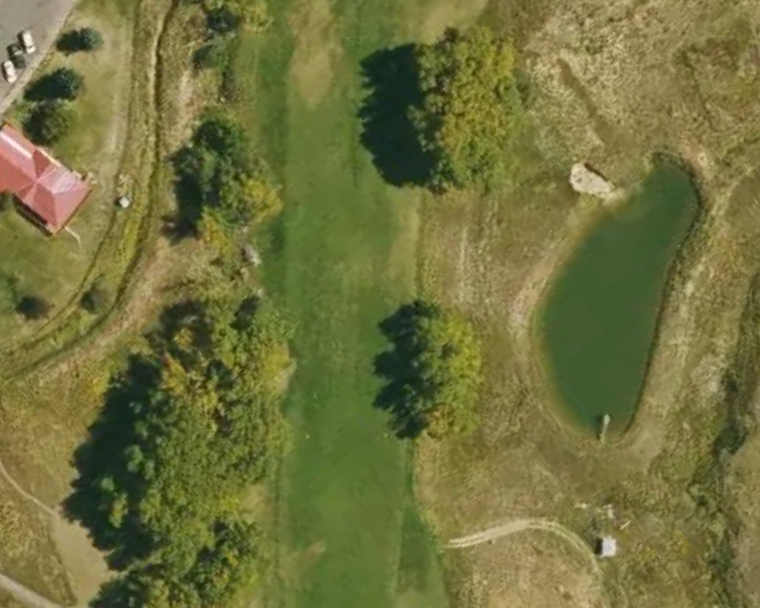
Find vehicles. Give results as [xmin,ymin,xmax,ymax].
[9,41,24,67]
[20,29,34,54]
[1,60,15,83]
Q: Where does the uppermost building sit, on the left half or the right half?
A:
left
